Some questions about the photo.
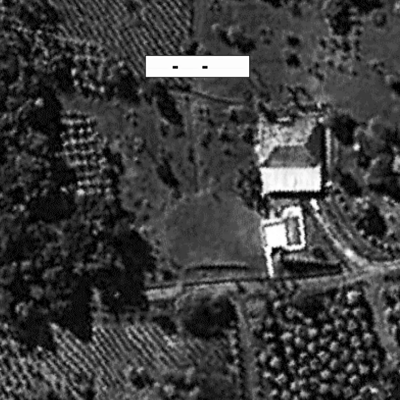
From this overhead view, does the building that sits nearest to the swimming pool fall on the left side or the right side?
right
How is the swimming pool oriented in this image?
from top to bottom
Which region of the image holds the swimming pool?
right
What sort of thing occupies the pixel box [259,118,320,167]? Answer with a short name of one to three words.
house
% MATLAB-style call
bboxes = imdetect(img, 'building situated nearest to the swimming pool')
[266,224,286,247]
